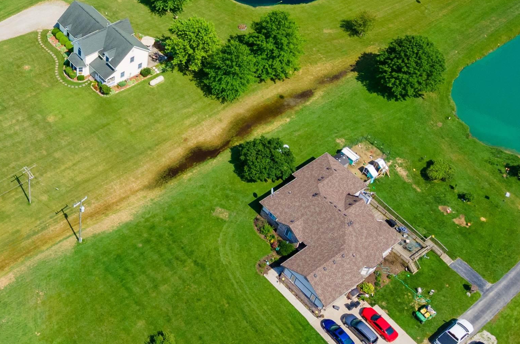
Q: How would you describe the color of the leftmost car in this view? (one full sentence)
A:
The leftmost car looks blue in the image.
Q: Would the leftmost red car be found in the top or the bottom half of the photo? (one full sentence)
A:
The leftmost red car sits in the bottom half of the picture.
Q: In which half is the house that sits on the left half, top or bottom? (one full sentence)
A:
You can find the house that sits on the left half in the top half.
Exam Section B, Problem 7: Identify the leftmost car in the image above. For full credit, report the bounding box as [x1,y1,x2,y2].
[319,316,355,344]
